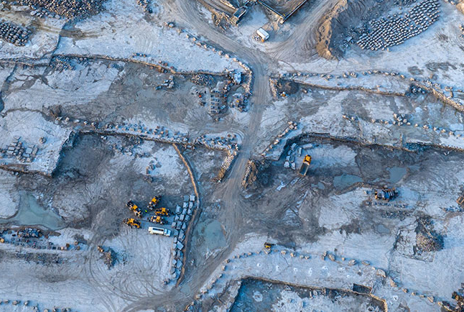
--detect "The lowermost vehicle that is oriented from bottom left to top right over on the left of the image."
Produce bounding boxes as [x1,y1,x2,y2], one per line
[147,191,162,210]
